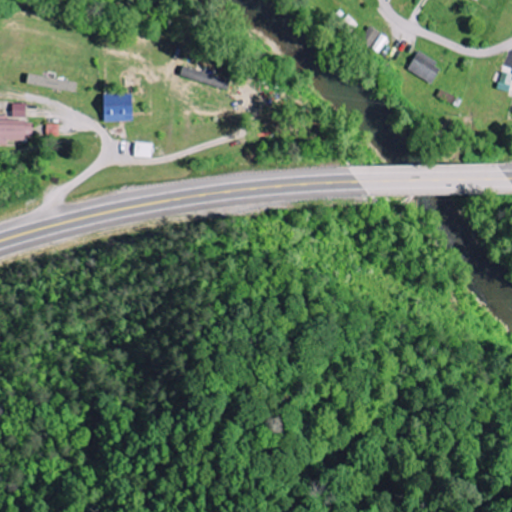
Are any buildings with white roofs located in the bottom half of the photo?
No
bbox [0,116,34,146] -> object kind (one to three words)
building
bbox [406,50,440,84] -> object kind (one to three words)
house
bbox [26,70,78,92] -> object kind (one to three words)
house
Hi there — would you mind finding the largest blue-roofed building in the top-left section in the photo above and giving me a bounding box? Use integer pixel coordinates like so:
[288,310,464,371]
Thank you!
[104,94,133,126]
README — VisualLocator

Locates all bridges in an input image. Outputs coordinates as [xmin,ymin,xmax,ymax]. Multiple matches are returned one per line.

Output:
[354,164,512,196]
